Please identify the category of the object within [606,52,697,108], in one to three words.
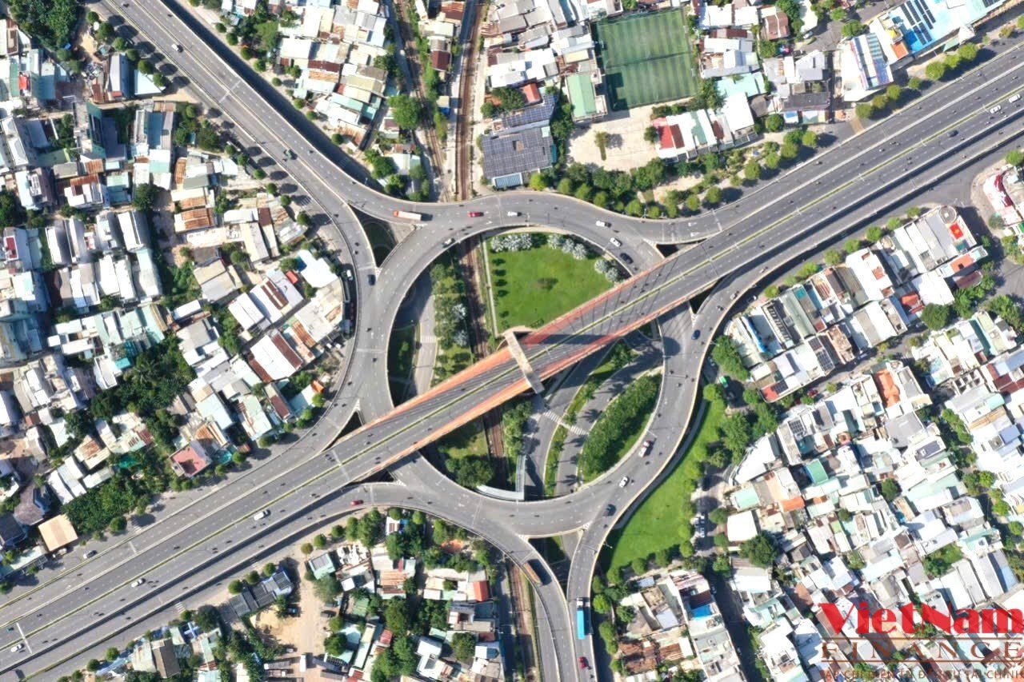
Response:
soccer field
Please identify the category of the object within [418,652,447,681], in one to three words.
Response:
house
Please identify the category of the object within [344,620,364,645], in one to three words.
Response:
house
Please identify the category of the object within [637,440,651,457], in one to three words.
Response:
vehicle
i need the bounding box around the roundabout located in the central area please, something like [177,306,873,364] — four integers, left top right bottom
[351,190,698,544]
